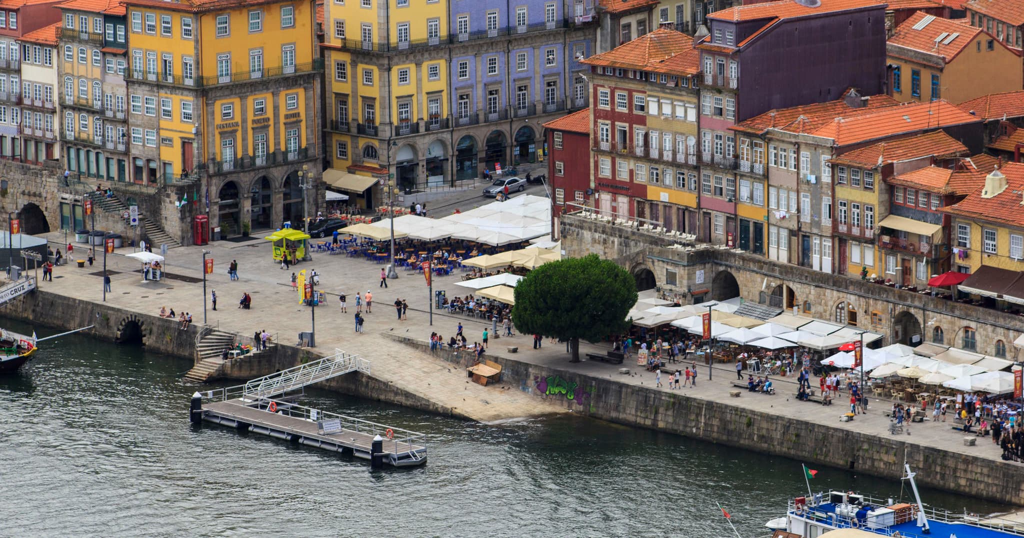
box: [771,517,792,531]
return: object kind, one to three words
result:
boat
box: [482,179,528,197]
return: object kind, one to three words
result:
car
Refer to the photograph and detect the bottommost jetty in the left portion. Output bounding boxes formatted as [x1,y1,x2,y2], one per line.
[202,388,429,466]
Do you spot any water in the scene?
Yes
